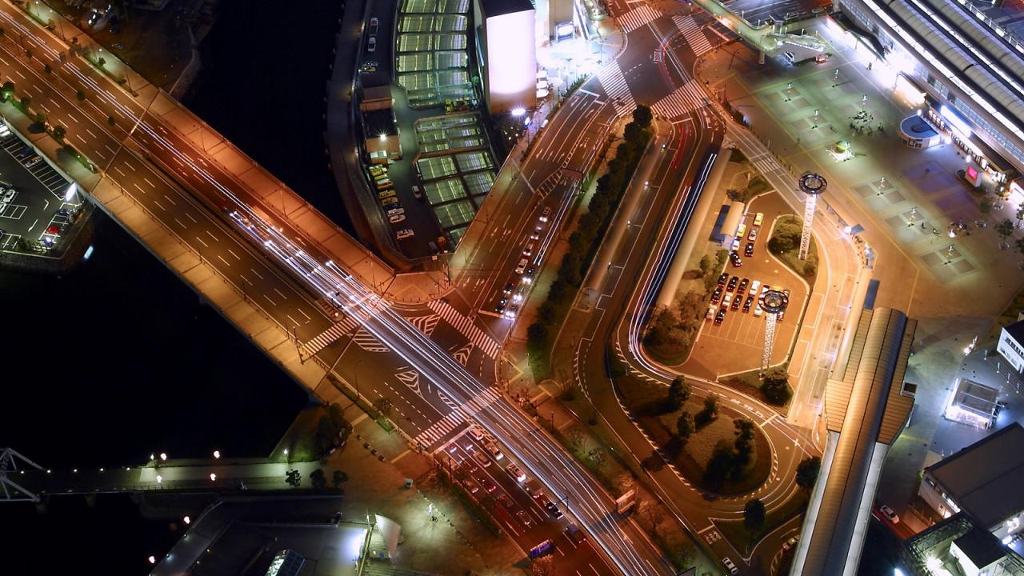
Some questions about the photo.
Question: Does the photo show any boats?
No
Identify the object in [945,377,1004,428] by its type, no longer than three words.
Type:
building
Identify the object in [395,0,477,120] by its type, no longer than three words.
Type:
building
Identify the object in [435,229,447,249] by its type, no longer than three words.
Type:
vehicle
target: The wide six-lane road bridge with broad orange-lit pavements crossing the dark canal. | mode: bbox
[88,86,395,397]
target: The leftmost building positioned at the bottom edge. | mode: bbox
[200,533,277,576]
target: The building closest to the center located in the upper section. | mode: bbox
[414,110,500,257]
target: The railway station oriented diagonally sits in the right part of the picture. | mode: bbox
[816,0,1024,178]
